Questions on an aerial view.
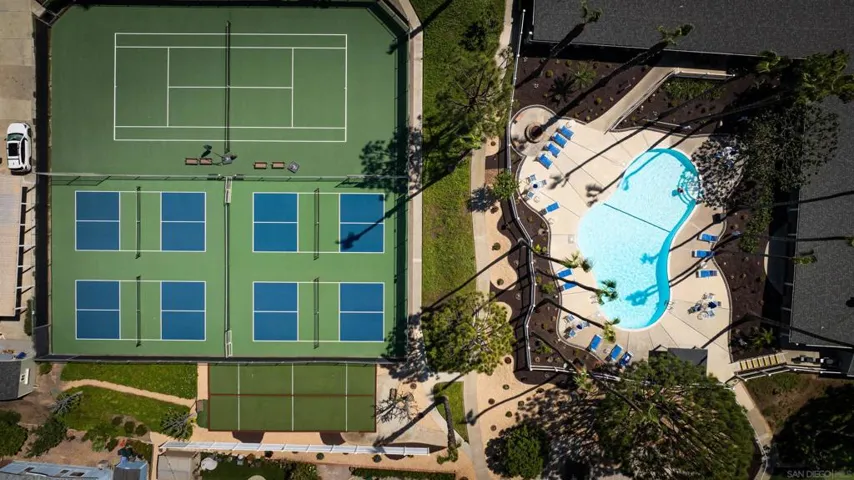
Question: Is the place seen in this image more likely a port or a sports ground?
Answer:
sports ground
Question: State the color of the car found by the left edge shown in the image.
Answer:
white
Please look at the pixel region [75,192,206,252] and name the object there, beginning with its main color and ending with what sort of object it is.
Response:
blue sports court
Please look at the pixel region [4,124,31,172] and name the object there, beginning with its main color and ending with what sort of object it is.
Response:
white car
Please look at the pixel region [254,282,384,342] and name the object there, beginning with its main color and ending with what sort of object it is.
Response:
blue sports court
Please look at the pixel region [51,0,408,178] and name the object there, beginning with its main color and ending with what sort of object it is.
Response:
green tennis court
